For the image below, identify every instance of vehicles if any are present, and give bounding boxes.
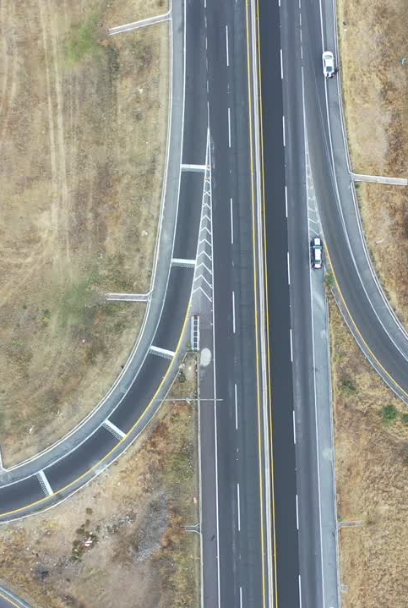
[323,52,336,75]
[311,239,324,266]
